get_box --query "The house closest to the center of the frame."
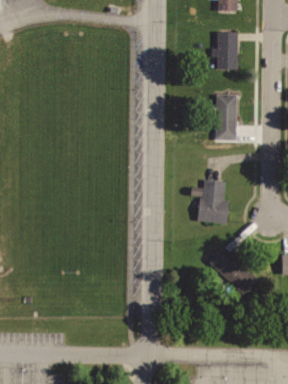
[198,181,229,224]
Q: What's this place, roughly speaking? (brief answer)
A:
sports ground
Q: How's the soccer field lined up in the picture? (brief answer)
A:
vertically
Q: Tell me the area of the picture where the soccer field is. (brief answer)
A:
left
